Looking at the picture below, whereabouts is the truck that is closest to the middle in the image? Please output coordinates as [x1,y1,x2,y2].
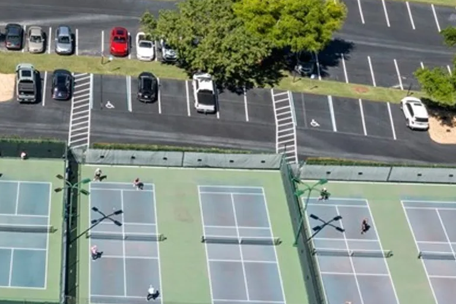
[194,73,217,110]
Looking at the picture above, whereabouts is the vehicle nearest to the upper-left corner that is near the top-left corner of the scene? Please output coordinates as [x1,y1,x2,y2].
[5,22,23,49]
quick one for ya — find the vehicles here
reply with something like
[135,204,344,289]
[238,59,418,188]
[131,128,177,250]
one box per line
[160,34,179,61]
[55,20,74,51]
[27,23,46,51]
[138,71,158,101]
[136,31,155,58]
[52,68,73,99]
[194,73,217,110]
[16,64,38,101]
[110,27,130,53]
[405,96,432,129]
[5,22,23,49]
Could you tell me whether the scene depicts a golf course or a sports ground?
sports ground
